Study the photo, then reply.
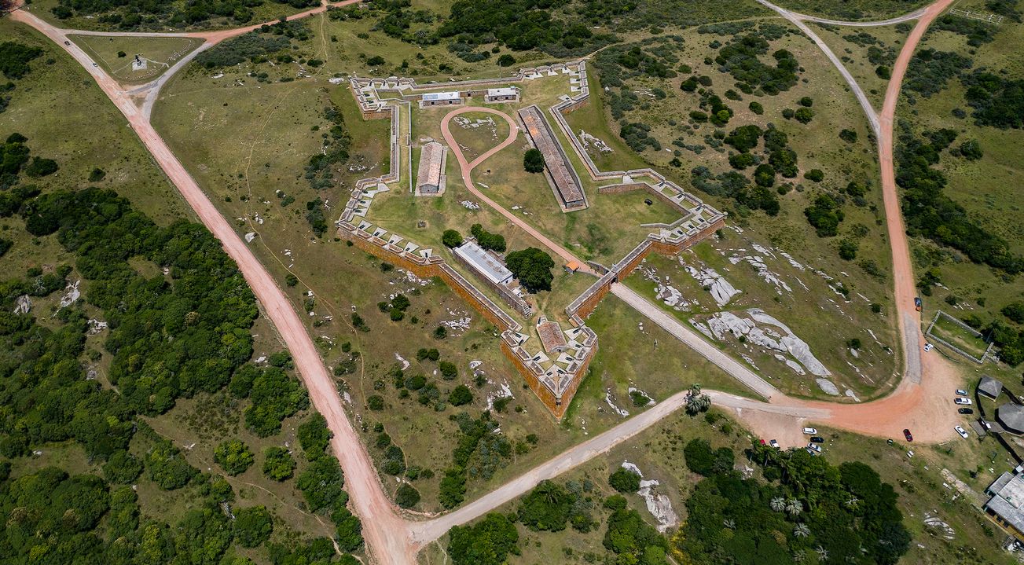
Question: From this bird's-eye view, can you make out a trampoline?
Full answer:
No, I can see no trampoline in this picture.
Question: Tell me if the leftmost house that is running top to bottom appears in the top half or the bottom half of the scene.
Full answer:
Seen from above, the leftmost house that is running top to bottom lies in the top half of the view.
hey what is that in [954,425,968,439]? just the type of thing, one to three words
car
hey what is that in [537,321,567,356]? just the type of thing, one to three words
house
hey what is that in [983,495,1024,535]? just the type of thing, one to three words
house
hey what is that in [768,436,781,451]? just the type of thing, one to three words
vehicle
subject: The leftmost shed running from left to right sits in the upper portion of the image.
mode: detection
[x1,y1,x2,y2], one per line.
[423,90,460,106]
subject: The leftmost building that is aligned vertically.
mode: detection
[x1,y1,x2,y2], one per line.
[420,141,442,193]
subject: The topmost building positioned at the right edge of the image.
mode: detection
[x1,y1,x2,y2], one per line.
[978,376,1003,401]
